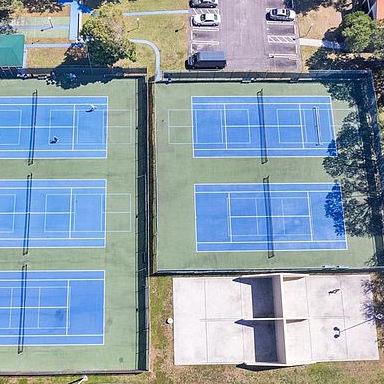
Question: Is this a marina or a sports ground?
sports ground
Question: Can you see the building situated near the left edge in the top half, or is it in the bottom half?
top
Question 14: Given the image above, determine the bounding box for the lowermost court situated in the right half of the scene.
[173,273,378,365]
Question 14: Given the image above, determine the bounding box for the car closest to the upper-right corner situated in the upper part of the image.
[268,7,295,20]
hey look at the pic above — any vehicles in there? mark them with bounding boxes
[189,50,227,67]
[191,0,218,7]
[268,7,295,20]
[192,13,219,26]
